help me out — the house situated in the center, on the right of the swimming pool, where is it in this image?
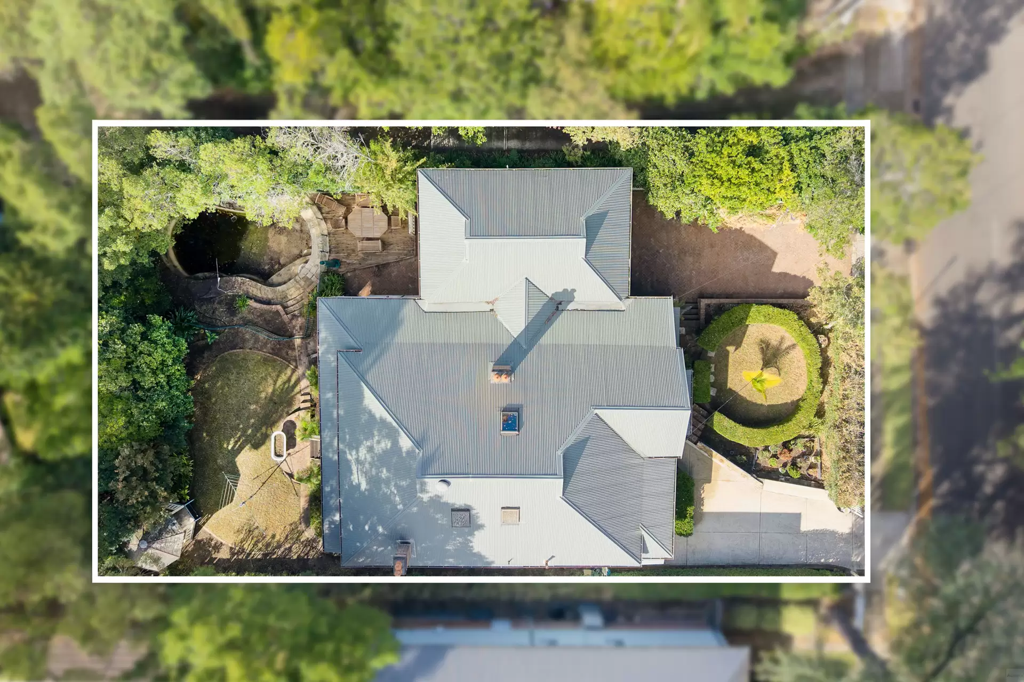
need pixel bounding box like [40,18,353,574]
[311,134,696,579]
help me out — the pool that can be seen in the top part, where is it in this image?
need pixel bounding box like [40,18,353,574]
[166,202,322,289]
